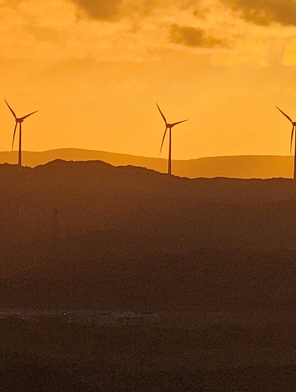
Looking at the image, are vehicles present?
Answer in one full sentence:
No, there's no vehicle here.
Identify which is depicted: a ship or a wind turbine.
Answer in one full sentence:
This aerial view contains a wind turbine.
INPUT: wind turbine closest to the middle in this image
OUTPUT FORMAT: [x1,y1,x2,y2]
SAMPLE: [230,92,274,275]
[155,103,187,175]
